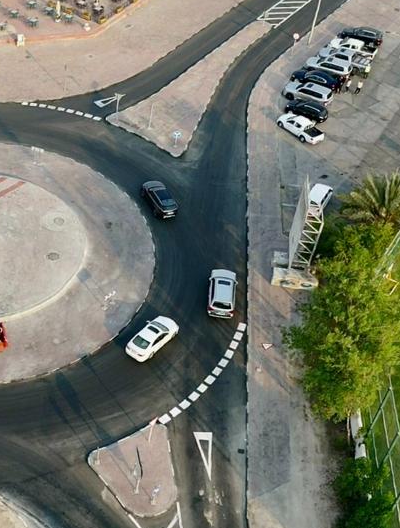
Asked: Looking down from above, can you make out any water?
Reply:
No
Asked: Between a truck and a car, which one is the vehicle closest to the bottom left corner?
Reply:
car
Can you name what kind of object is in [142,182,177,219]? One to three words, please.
car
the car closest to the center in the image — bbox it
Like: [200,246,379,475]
[206,268,240,320]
